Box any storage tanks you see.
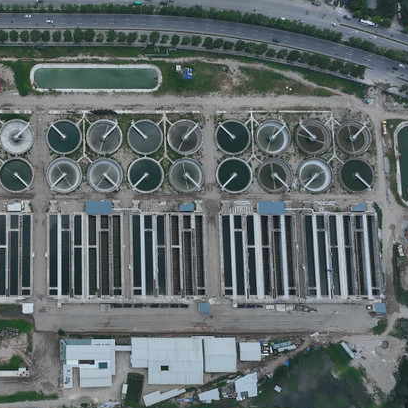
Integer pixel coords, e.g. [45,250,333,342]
[127,120,164,156]
[334,121,372,156]
[46,119,83,156]
[167,120,203,156]
[0,119,34,156]
[296,157,334,194]
[253,120,290,156]
[127,157,164,194]
[0,157,35,194]
[168,157,204,195]
[87,157,123,194]
[293,120,331,156]
[46,157,83,194]
[214,157,252,194]
[337,158,375,195]
[255,157,293,194]
[86,120,122,156]
[214,120,250,156]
